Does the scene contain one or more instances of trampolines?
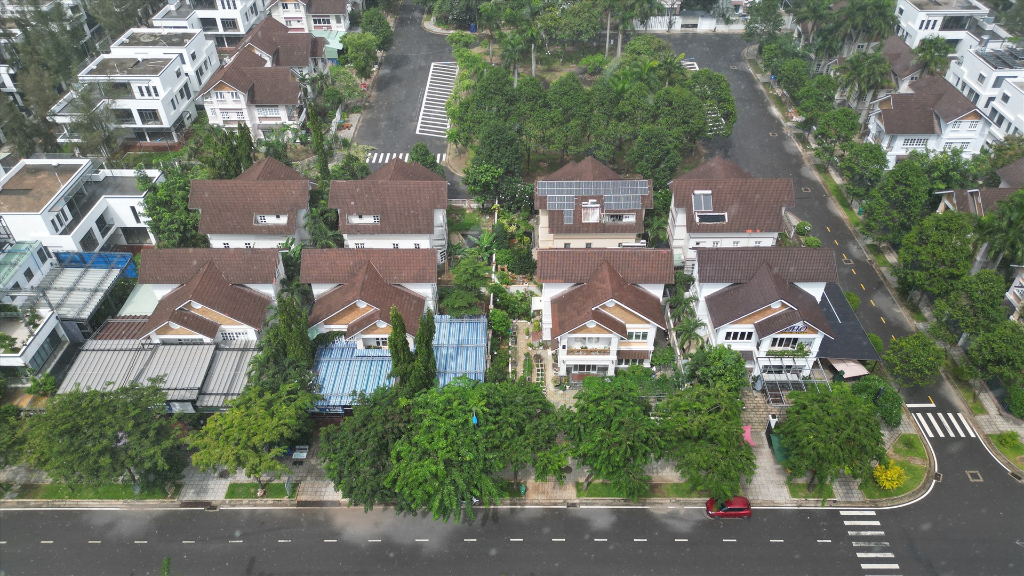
No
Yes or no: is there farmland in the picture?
No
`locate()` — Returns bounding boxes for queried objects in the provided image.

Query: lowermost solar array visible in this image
[536,180,651,223]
